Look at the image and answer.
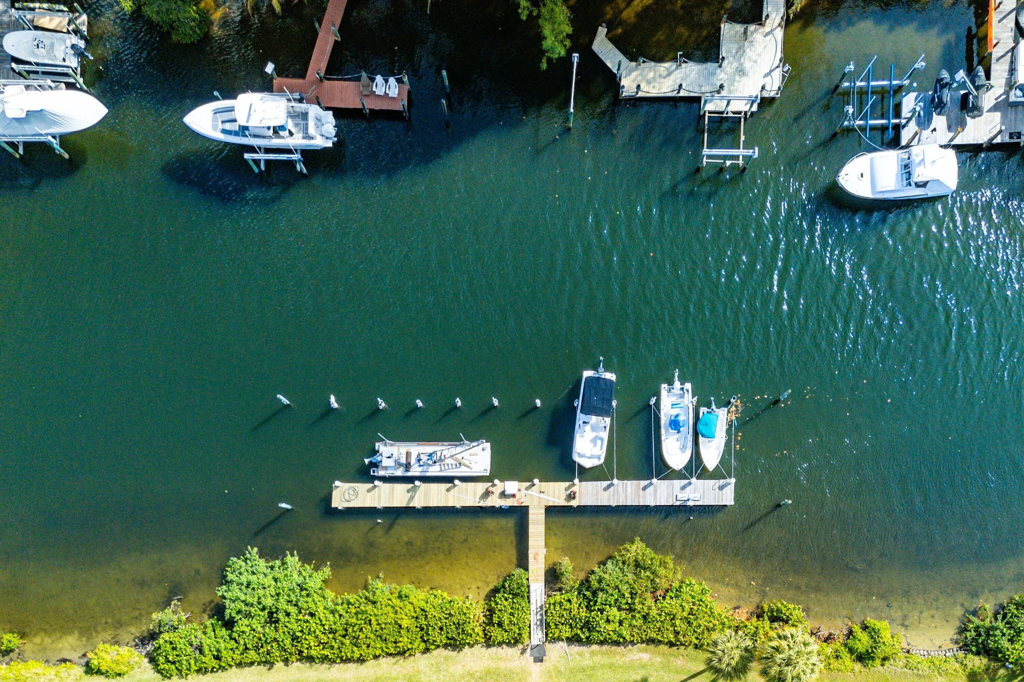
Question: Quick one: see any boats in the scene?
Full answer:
Yes, looking at the shot, I can spot a boat.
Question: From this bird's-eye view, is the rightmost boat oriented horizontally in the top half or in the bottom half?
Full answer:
You can find the rightmost boat oriented horizontally in the top half.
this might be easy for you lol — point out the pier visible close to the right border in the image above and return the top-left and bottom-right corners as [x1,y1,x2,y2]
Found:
[895,0,1024,153]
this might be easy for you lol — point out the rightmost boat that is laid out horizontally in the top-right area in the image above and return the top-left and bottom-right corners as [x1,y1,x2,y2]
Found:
[832,143,963,200]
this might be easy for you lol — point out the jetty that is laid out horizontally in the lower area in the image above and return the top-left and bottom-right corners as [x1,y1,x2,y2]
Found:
[332,477,737,646]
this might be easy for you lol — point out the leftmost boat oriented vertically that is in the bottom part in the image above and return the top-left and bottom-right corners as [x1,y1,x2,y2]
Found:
[574,356,617,468]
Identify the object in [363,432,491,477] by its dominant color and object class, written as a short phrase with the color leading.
white vessel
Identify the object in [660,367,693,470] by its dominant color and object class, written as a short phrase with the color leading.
white boat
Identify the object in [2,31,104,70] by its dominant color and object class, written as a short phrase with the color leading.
white boat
